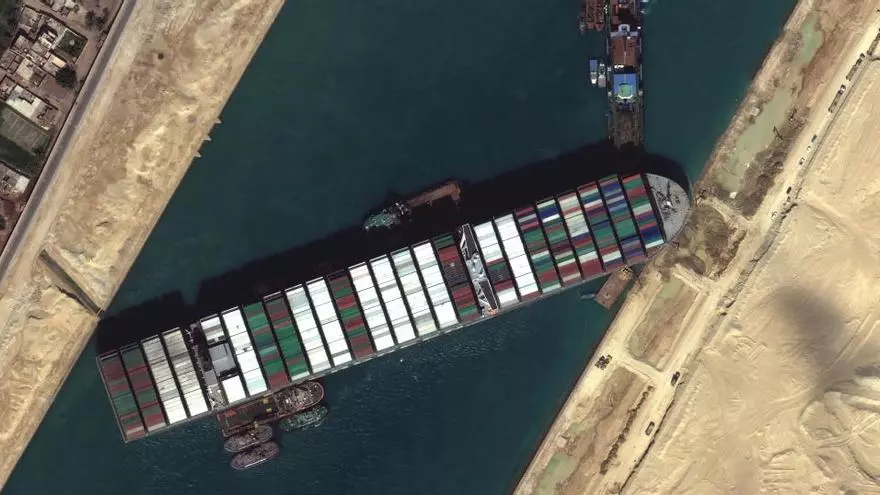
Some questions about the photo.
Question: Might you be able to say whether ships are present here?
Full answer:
Yes, the picture does show a ship.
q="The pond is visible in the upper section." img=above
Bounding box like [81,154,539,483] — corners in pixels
[716,14,821,193]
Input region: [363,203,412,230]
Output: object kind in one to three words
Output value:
boat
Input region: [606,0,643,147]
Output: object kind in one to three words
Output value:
ship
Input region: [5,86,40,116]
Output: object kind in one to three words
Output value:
house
